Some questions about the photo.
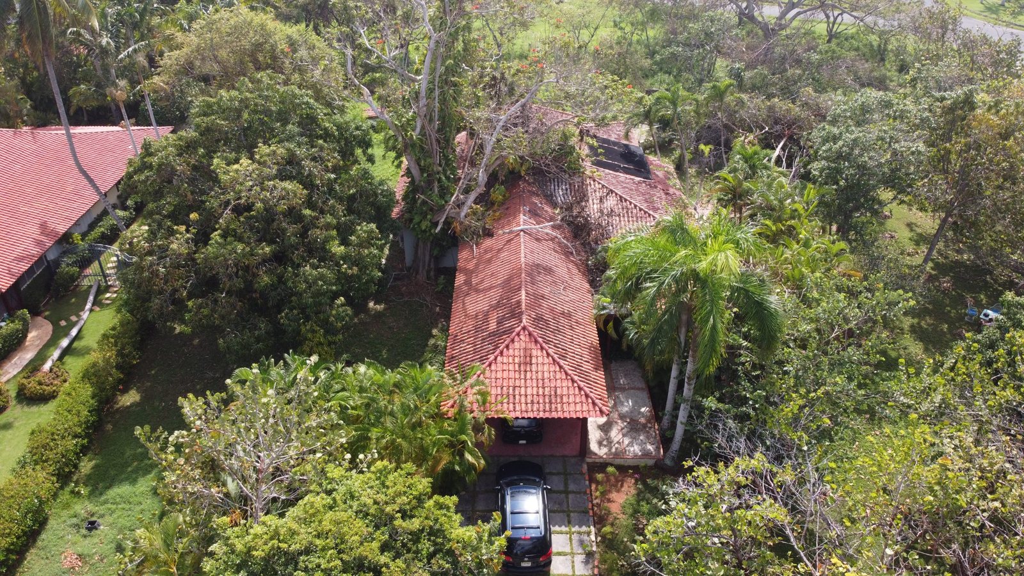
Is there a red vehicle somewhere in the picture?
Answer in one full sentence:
No, the frame has no red vehicle in it.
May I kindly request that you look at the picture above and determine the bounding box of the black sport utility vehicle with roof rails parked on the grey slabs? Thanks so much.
[493,455,553,574]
